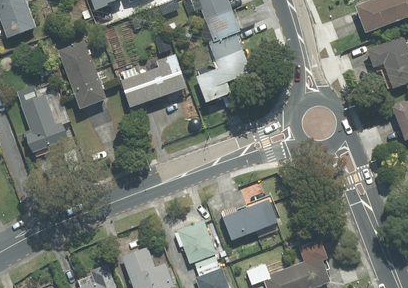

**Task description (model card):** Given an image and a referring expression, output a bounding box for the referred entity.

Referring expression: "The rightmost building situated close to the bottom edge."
[266,242,330,288]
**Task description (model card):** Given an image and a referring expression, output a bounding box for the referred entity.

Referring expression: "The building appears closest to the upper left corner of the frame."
[0,0,36,38]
